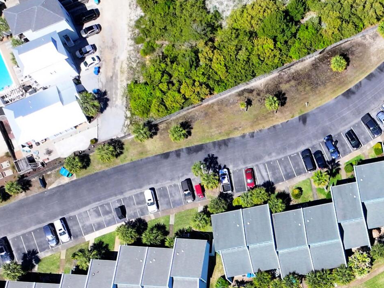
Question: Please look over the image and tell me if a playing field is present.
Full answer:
No, the scene contains no playing field.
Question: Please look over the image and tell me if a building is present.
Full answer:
Yes, there's a building down there.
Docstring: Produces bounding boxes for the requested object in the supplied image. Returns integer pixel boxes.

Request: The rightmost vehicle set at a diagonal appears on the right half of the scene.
[361,113,380,136]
